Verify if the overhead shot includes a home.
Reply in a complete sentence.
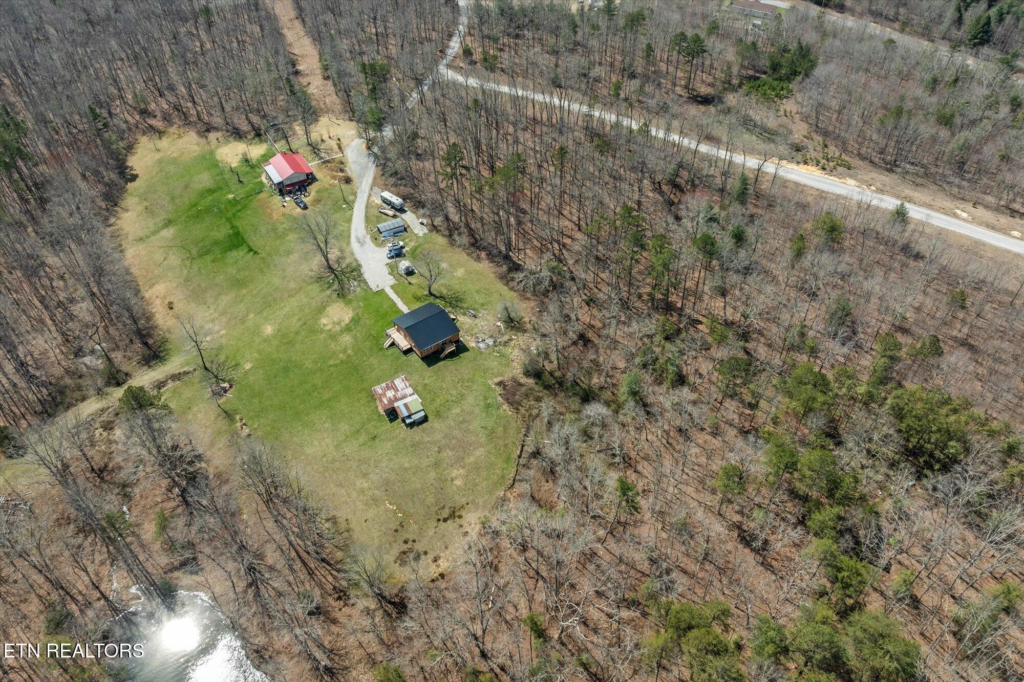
Yes, the picture does show a home.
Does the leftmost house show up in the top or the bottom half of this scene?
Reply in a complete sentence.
The leftmost house sits in the top half of the picture.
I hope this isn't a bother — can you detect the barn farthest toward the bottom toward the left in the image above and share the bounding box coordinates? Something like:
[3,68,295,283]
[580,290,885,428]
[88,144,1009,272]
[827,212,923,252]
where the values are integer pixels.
[372,375,424,425]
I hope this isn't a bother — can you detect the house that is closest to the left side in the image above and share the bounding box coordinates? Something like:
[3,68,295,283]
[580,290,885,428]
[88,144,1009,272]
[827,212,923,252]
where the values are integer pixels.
[262,149,315,196]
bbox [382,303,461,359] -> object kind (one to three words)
house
